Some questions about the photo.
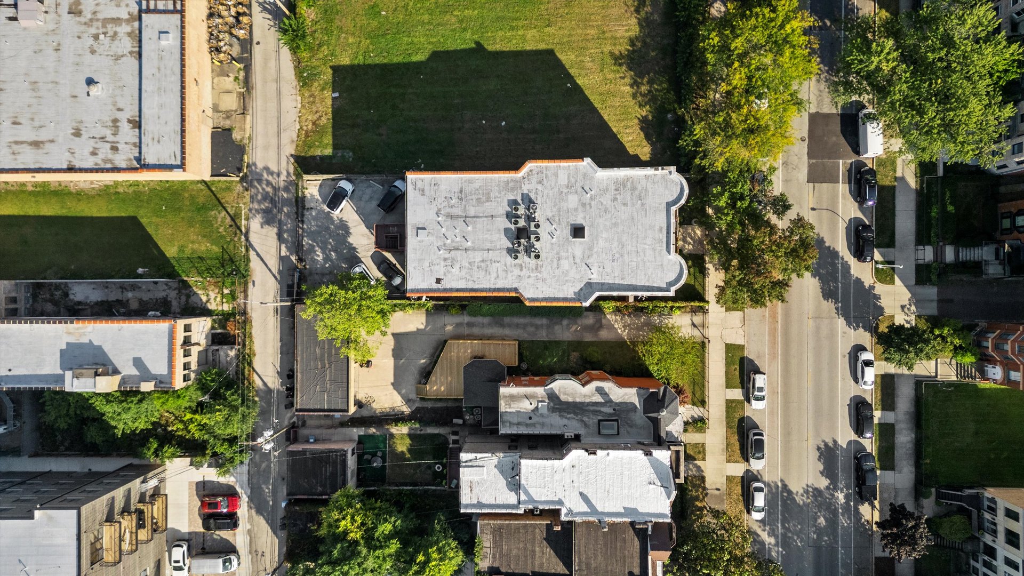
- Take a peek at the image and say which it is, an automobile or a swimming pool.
automobile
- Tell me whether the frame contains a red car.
Yes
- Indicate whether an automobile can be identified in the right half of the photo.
Yes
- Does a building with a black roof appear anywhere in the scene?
Yes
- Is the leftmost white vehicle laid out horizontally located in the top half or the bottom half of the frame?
bottom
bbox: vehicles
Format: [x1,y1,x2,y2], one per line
[188,550,241,575]
[348,256,381,292]
[201,494,242,514]
[325,178,356,215]
[747,371,768,410]
[372,253,405,289]
[376,177,406,215]
[203,512,241,533]
[746,428,768,469]
[854,167,877,208]
[853,400,875,439]
[170,539,192,576]
[854,350,875,389]
[852,449,876,500]
[854,111,881,158]
[748,480,768,520]
[852,225,875,263]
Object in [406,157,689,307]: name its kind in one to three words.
house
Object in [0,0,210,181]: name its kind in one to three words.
warehouse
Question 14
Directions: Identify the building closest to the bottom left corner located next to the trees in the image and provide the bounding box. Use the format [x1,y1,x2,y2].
[0,464,165,576]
